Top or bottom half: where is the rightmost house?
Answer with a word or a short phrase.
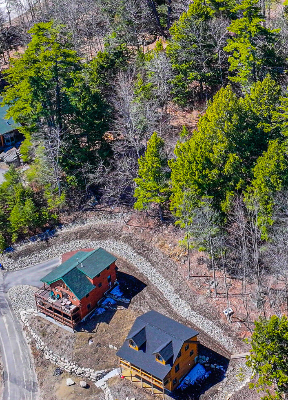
bottom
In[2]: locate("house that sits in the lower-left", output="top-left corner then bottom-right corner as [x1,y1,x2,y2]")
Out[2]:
[35,247,120,334]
